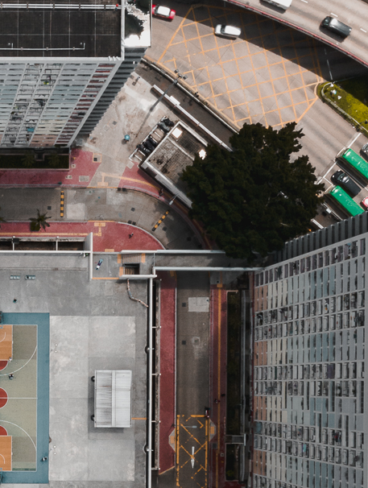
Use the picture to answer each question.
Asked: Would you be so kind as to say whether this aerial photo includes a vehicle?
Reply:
Yes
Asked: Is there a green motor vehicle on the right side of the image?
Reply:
Yes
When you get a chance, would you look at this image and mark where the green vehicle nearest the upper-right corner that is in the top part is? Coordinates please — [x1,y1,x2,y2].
[337,147,368,185]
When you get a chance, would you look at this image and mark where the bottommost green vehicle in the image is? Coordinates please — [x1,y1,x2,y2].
[328,184,368,218]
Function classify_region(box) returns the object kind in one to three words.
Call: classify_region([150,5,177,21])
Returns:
car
